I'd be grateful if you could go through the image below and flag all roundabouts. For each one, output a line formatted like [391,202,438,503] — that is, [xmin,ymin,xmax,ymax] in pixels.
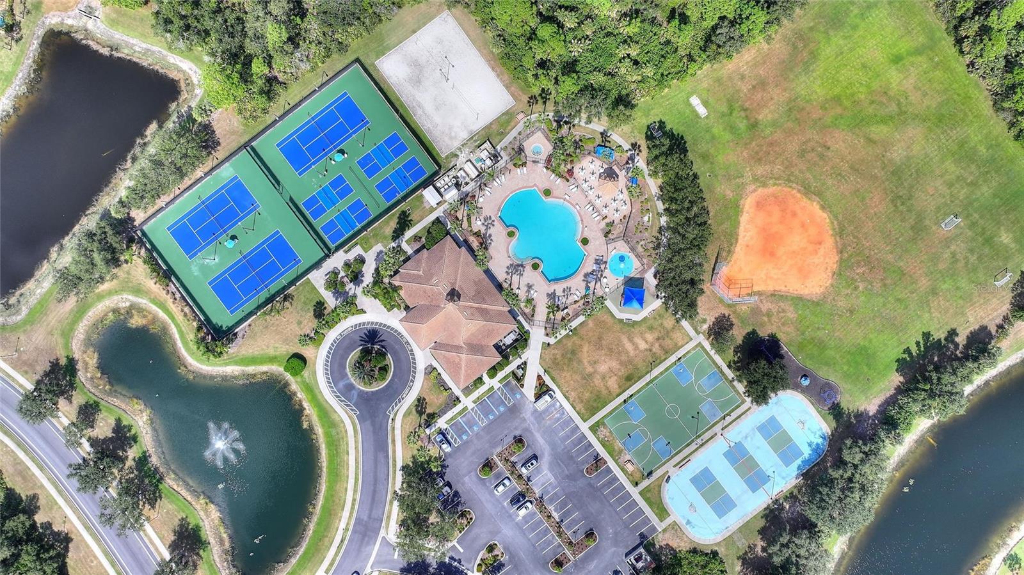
[347,344,394,391]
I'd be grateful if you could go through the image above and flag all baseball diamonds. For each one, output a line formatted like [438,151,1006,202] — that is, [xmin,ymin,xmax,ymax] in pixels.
[710,184,840,304]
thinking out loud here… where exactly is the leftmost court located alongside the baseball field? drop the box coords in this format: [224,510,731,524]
[604,347,740,474]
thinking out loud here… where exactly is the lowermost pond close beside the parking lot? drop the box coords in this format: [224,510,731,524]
[101,326,312,575]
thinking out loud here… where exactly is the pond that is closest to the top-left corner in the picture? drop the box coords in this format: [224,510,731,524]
[0,35,173,295]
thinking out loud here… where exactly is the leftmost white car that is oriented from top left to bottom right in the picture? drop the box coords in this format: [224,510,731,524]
[436,435,451,453]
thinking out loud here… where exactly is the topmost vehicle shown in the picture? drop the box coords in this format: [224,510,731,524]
[535,392,555,410]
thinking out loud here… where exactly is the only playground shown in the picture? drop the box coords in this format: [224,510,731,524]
[742,336,841,411]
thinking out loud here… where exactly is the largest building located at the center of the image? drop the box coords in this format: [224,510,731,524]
[390,235,518,390]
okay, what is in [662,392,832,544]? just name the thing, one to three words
sports court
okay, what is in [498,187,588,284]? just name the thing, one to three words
swimming pool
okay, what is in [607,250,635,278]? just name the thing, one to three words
swimming pool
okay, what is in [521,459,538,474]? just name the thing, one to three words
car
